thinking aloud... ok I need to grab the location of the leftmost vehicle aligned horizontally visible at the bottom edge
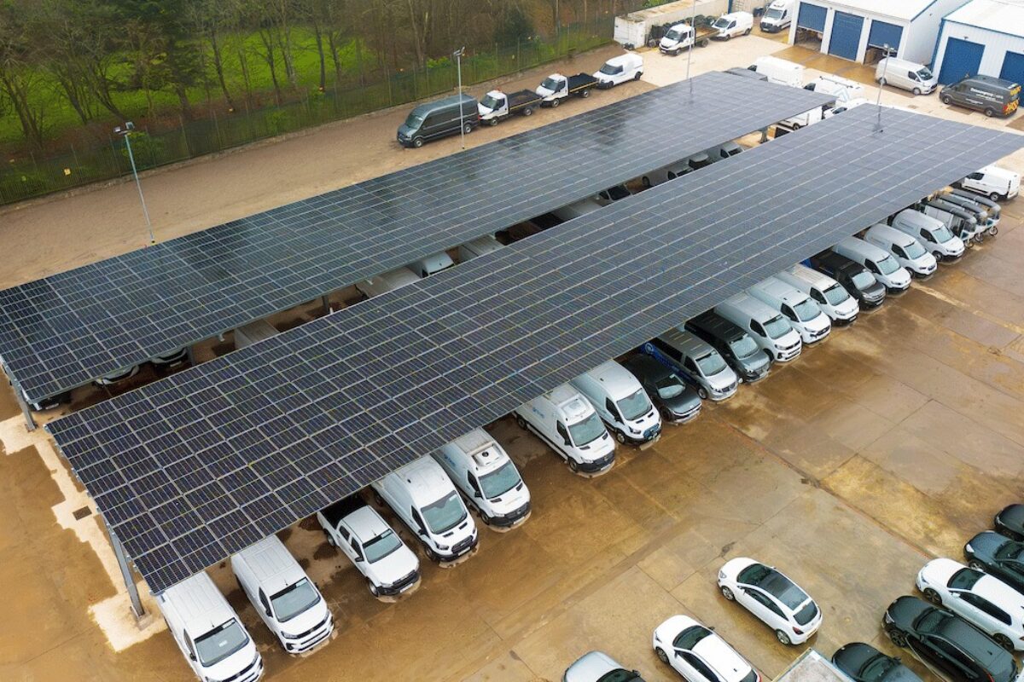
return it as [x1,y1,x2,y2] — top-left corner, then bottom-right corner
[575,645,660,682]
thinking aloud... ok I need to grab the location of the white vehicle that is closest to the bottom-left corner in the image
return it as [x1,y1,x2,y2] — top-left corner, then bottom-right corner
[140,575,257,682]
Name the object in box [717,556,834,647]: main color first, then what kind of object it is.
white car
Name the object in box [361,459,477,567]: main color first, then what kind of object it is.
white van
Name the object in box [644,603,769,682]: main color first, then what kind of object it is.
white car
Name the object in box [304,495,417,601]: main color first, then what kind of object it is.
white truck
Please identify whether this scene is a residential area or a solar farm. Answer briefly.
solar farm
